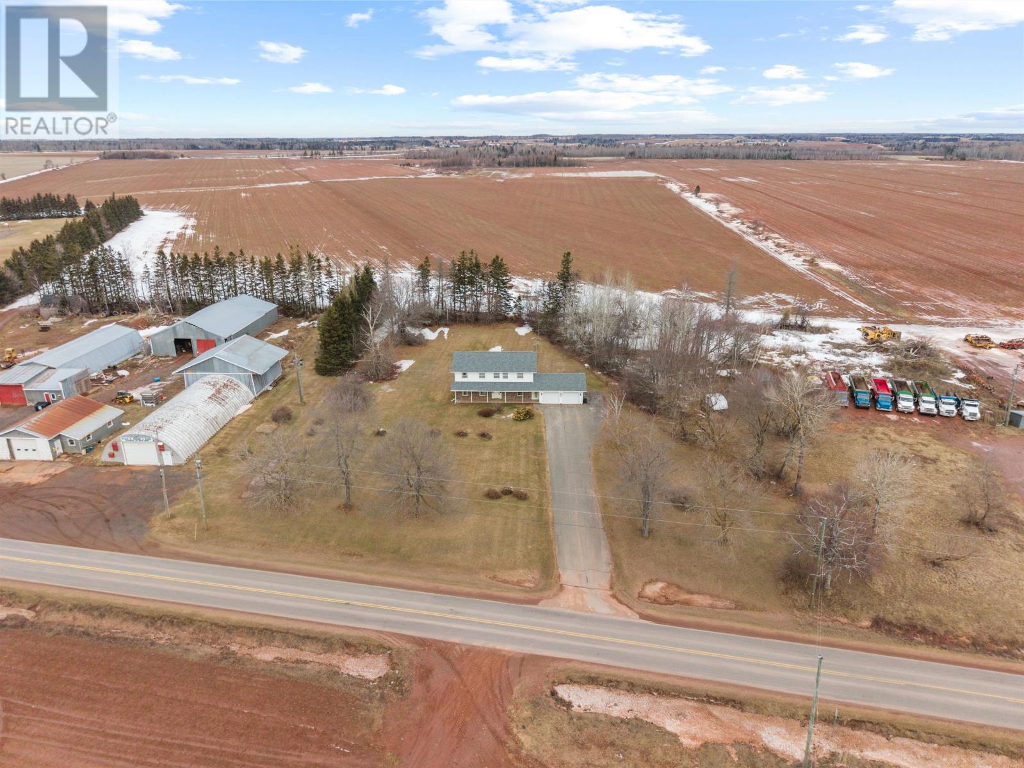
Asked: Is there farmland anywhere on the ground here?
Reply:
Yes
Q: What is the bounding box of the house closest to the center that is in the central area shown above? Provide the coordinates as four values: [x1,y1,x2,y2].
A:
[450,347,586,406]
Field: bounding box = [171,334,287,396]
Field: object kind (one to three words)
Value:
shed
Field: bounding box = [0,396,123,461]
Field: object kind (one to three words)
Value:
building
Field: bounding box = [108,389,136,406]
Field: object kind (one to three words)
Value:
work vehicle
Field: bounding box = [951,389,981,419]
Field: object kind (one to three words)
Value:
truck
